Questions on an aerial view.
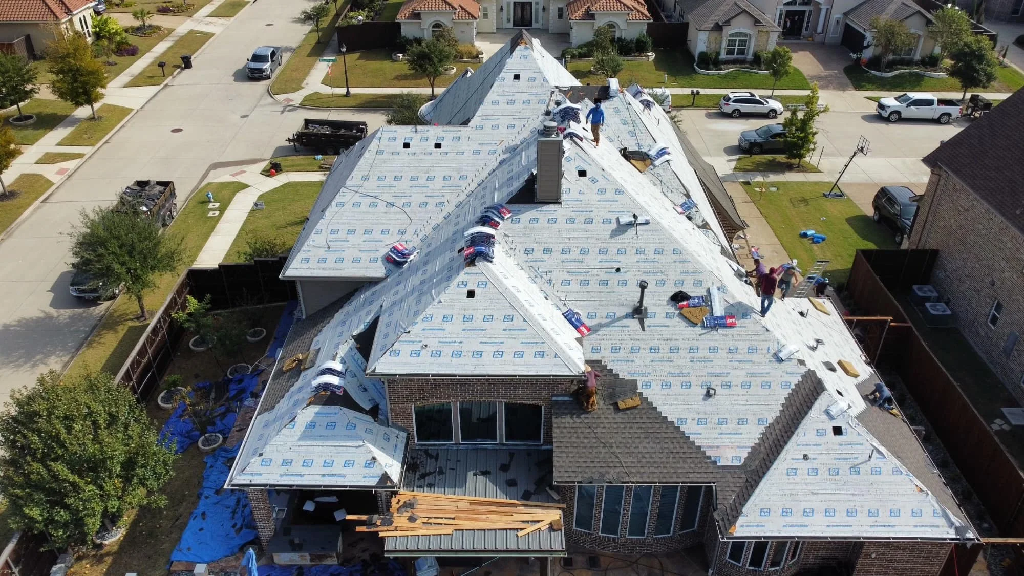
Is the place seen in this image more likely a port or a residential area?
residential area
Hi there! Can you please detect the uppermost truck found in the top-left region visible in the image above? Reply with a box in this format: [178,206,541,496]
[245,39,289,75]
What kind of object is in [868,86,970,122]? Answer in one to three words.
truck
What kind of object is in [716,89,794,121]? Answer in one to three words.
car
